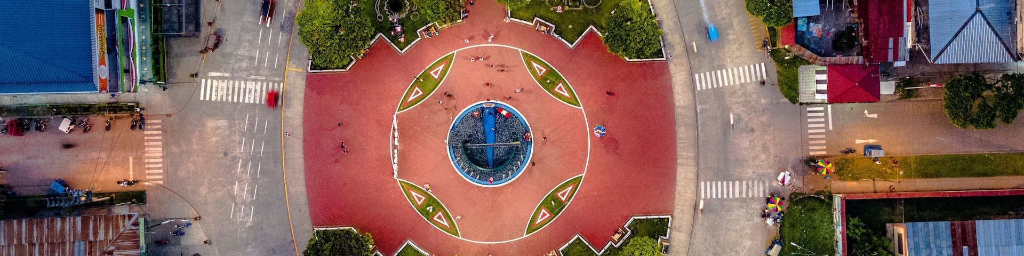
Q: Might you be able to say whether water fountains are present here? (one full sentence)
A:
Yes, I can see a water fountain in this picture.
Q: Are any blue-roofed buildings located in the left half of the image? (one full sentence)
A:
Yes, a blue-roofed building is visible in the left half of the image.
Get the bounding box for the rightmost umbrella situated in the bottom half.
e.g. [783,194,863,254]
[816,159,831,175]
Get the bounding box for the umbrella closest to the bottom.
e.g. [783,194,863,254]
[768,197,782,211]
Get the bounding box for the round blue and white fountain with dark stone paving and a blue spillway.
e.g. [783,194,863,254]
[447,101,533,188]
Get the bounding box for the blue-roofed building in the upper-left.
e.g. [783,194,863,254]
[0,0,141,96]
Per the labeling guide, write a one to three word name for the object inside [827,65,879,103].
building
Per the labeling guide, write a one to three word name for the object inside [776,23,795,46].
shed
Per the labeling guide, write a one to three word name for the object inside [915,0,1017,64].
house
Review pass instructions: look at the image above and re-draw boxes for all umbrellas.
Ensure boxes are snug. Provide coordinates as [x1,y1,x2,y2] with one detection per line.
[768,197,782,211]
[816,159,831,175]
